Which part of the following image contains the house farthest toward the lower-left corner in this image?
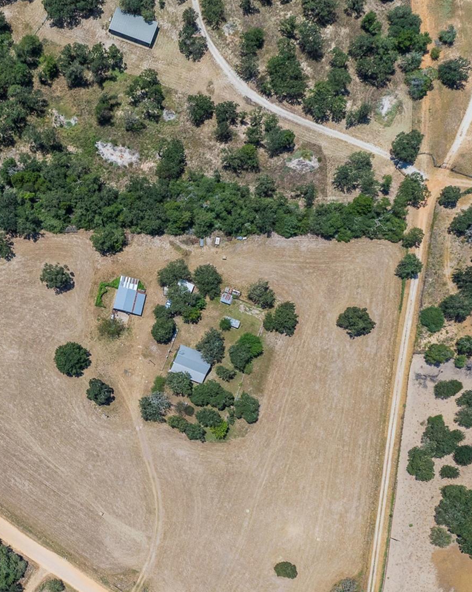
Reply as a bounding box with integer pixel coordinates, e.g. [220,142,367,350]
[169,347,211,382]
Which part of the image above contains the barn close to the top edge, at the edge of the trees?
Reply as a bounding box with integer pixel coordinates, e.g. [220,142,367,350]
[109,7,158,48]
